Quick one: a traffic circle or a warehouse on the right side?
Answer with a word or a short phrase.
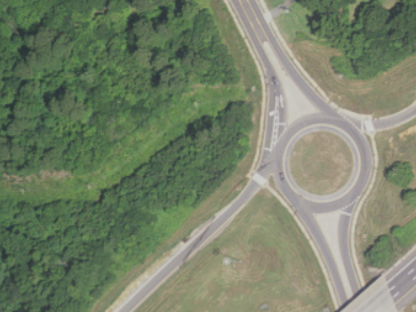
traffic circle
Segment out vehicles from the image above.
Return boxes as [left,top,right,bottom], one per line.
[271,76,277,86]
[278,172,284,182]
[277,6,286,10]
